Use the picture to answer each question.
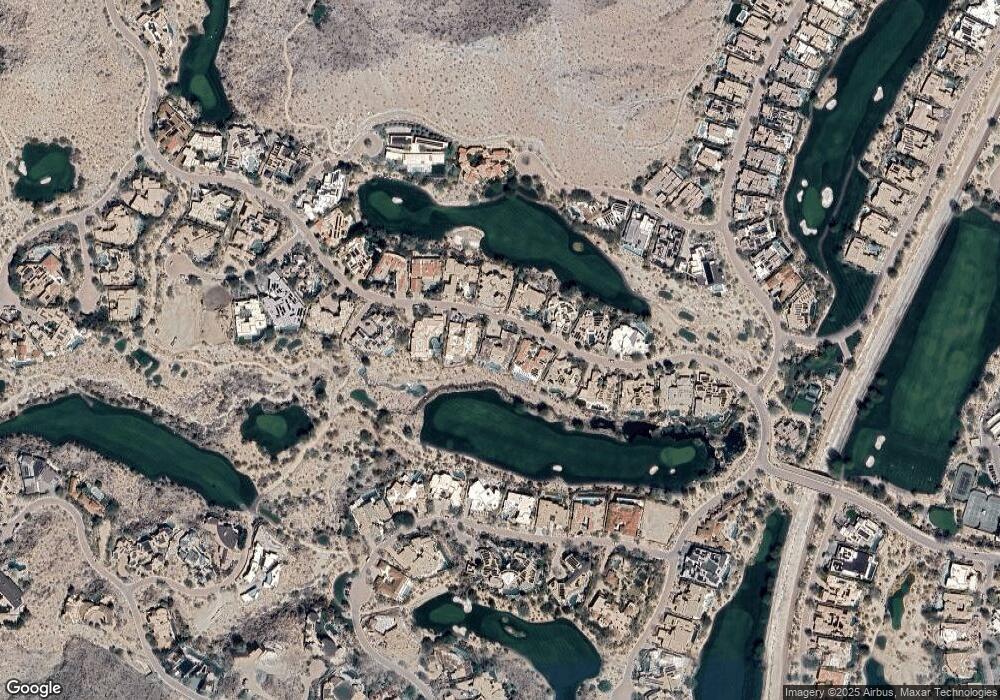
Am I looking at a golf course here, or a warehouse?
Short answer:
golf course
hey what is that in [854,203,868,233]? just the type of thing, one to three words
swimming pool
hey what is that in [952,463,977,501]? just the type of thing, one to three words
tennis court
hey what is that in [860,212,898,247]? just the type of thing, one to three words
house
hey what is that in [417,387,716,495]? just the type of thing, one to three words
golf course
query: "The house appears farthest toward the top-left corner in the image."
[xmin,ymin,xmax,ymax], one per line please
[132,6,172,51]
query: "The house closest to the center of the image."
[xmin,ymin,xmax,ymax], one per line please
[478,325,518,370]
